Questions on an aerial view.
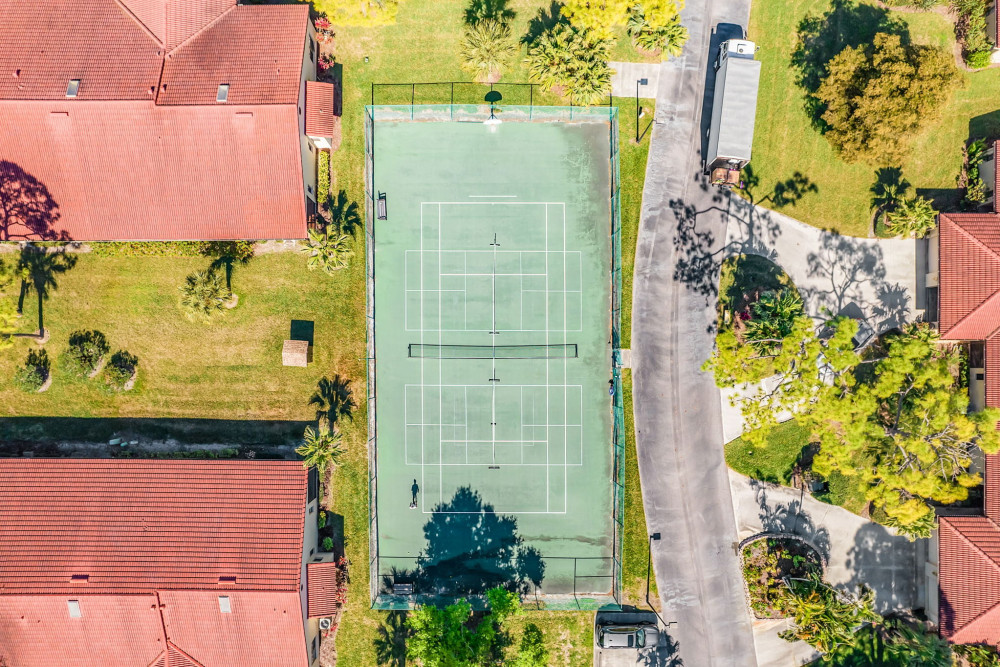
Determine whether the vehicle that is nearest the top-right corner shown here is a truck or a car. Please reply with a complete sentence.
I'd say the vehicle that is nearest the top-right corner is a truck.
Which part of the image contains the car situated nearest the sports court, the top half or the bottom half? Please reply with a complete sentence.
The car situated nearest the sports court sits in the bottom half of the picture.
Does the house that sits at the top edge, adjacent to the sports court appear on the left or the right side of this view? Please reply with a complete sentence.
The house that sits at the top edge, adjacent to the sports court is on the left side of the image.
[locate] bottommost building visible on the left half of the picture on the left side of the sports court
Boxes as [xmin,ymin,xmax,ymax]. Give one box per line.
[0,457,340,667]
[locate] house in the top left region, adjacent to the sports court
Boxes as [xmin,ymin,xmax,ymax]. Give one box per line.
[0,0,338,241]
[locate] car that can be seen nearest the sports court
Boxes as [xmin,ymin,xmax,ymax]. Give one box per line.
[597,620,662,654]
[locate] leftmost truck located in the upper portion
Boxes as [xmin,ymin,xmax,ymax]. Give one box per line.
[703,38,762,187]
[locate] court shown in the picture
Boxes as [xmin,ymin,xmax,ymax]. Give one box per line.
[364,110,616,601]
